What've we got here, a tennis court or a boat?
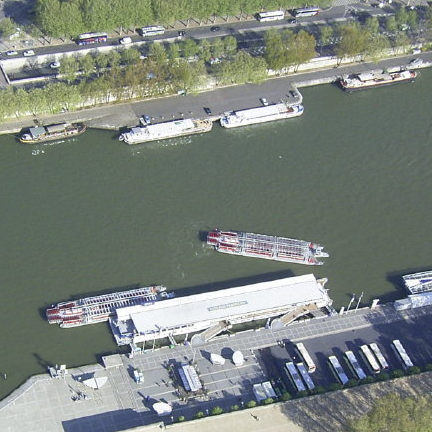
boat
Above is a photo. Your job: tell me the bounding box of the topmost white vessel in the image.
[337,69,417,91]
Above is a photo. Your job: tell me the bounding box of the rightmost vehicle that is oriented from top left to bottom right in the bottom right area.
[390,340,414,372]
